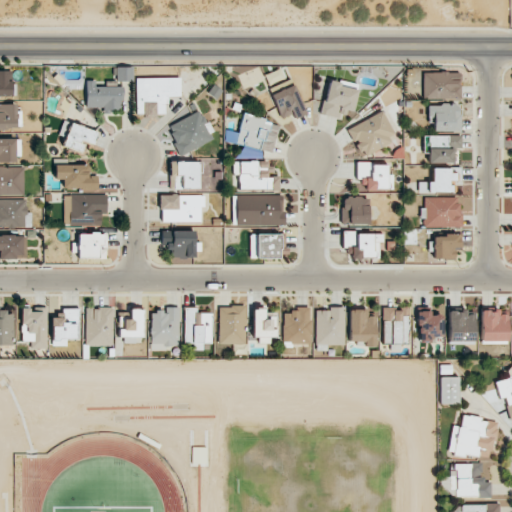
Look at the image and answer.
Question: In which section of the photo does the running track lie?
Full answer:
You can find the running track in the bottom left area of the picture.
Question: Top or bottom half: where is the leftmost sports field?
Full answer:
The leftmost sports field is in the bottom half of the image.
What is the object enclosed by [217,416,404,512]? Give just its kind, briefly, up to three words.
soccer field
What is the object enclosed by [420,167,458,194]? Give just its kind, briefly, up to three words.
house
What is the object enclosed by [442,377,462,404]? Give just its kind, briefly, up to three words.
shed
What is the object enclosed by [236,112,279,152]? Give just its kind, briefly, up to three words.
house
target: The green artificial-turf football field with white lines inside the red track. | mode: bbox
[43,456,164,512]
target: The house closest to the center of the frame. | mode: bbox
[250,233,284,260]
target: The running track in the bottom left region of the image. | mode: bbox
[22,437,184,512]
